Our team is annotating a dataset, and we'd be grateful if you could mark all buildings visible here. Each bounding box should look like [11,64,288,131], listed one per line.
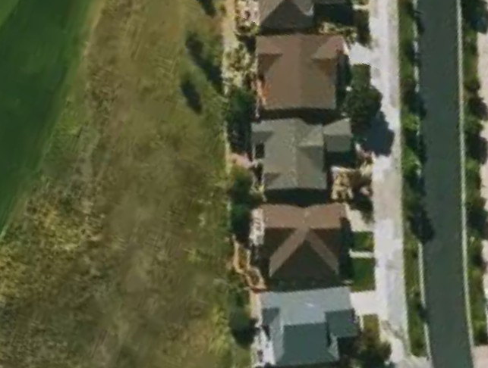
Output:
[252,118,353,192]
[253,0,348,28]
[259,205,347,282]
[262,290,357,368]
[257,34,346,110]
